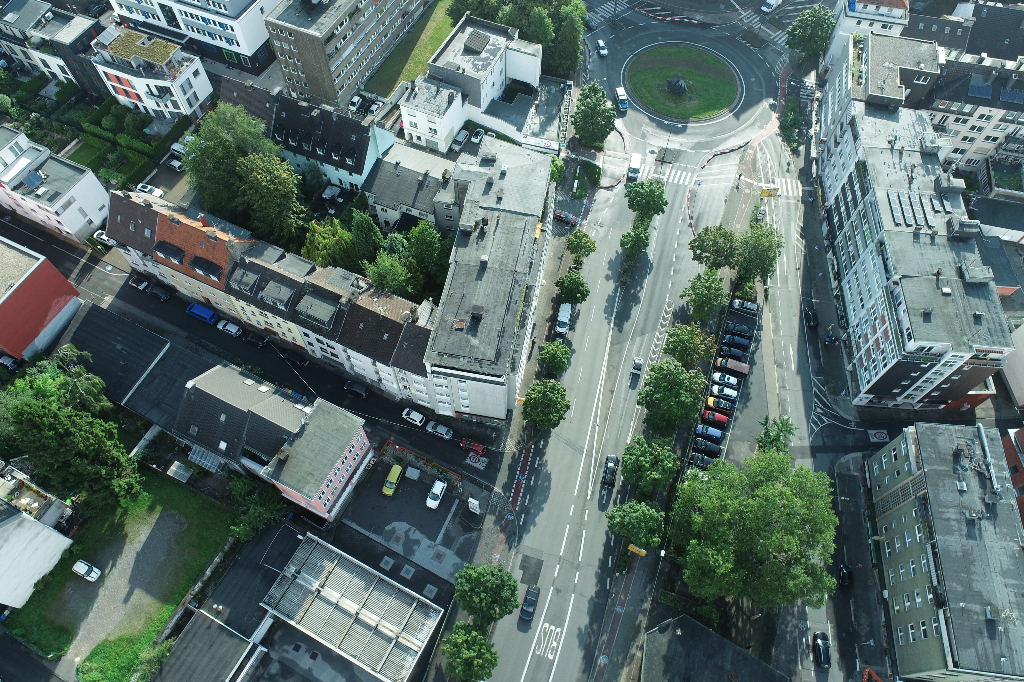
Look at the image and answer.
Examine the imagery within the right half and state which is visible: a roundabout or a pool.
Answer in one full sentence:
What appears within the right half is a roundabout.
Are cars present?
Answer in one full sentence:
Yes, I can see a car in this picture.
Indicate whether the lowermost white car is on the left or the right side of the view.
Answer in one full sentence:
The lowermost white car is on the left side of the image.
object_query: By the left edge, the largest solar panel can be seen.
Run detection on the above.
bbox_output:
[22,164,42,180]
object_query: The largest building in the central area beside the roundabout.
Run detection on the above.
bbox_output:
[425,132,560,418]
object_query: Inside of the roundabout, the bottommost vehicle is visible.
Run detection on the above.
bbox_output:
[616,88,628,110]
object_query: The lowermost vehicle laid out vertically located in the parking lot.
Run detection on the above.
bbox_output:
[812,632,831,669]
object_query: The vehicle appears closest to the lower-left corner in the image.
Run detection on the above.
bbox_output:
[71,561,103,581]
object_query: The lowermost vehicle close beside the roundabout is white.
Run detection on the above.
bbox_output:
[628,149,643,177]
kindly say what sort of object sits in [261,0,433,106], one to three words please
building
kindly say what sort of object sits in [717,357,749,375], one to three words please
vehicle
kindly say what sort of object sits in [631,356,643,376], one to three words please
vehicle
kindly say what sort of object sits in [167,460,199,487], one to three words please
shed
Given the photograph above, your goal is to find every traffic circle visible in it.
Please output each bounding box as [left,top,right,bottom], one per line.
[589,23,777,154]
